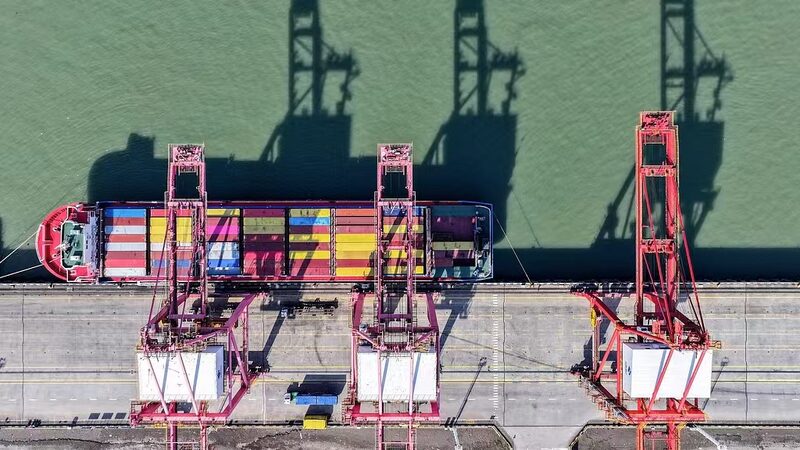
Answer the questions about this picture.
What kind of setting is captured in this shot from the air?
port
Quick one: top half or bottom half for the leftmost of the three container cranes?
bottom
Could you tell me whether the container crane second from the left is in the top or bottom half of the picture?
bottom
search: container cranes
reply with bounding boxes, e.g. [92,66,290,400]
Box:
[126,144,268,450]
[570,109,725,450]
[344,142,443,450]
